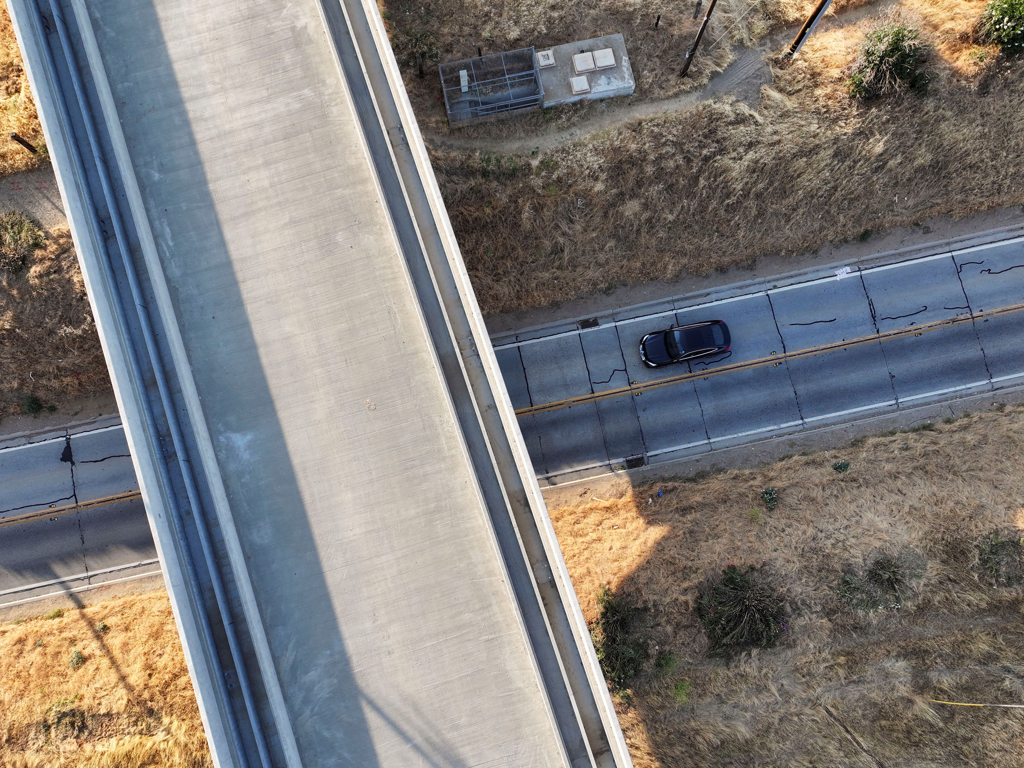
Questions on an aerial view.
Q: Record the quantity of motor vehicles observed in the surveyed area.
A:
1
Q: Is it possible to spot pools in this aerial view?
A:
No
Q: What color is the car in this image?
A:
black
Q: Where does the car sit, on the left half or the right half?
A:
right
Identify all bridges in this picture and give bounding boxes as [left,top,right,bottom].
[5,0,634,768]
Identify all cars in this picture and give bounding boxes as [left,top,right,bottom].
[637,320,735,369]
